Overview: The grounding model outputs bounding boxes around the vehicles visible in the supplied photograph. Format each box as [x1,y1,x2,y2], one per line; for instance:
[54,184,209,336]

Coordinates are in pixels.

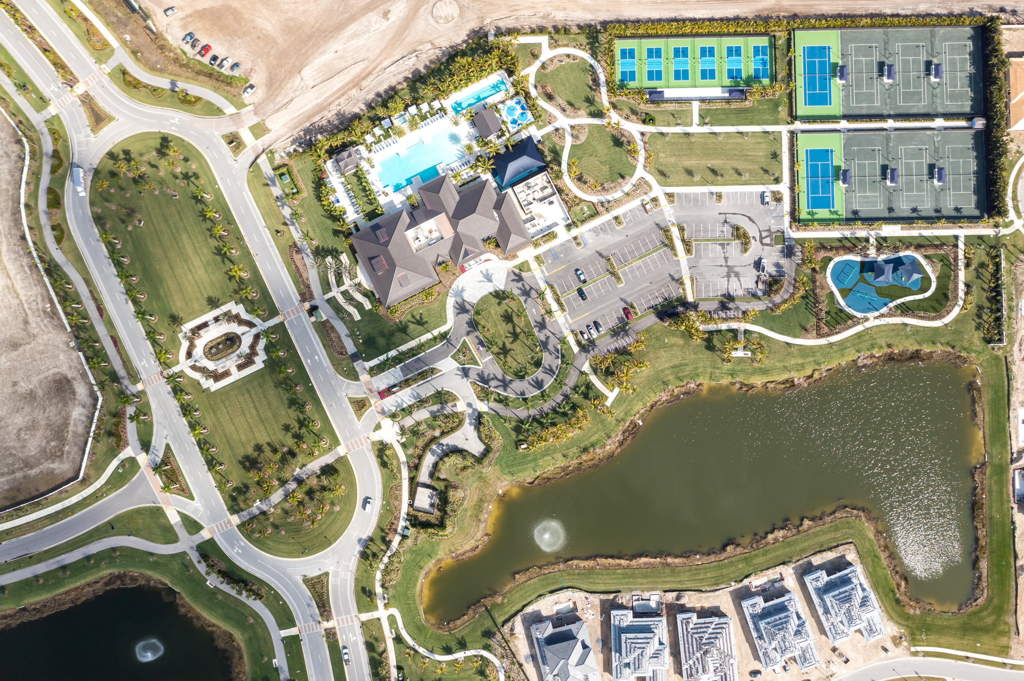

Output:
[243,83,257,97]
[774,667,782,679]
[577,288,587,301]
[197,44,212,57]
[580,330,588,340]
[623,307,633,320]
[165,7,177,16]
[763,192,770,205]
[784,661,791,674]
[230,62,242,73]
[209,54,219,67]
[73,164,88,194]
[588,326,597,338]
[642,201,653,215]
[364,499,373,514]
[344,649,351,666]
[594,322,604,334]
[191,38,201,50]
[217,57,232,71]
[183,32,195,44]
[575,269,587,284]
[761,259,767,274]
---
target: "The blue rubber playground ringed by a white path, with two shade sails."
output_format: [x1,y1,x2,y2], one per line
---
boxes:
[826,250,937,318]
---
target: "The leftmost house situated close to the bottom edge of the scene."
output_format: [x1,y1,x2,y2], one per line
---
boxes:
[530,619,600,681]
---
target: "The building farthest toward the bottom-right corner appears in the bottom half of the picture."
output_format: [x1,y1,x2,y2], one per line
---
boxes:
[804,567,886,646]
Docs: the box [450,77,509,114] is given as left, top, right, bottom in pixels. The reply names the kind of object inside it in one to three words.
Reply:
swimming pool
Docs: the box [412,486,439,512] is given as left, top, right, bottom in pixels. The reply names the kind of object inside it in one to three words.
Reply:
building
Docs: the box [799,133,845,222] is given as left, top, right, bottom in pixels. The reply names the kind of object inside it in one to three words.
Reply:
tennis court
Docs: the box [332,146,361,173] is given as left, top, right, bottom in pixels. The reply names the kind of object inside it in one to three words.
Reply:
gazebo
